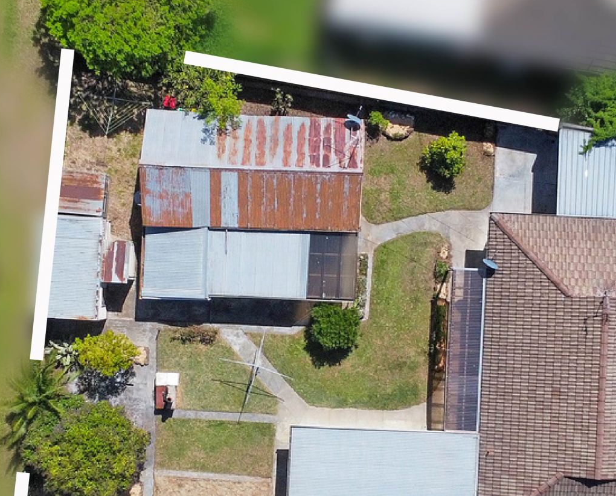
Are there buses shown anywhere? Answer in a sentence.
No, the scene contains no bus.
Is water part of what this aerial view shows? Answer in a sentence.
No, water can't be seen anywhere here.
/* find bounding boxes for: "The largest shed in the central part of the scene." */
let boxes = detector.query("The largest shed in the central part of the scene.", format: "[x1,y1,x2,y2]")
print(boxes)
[138,106,367,301]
